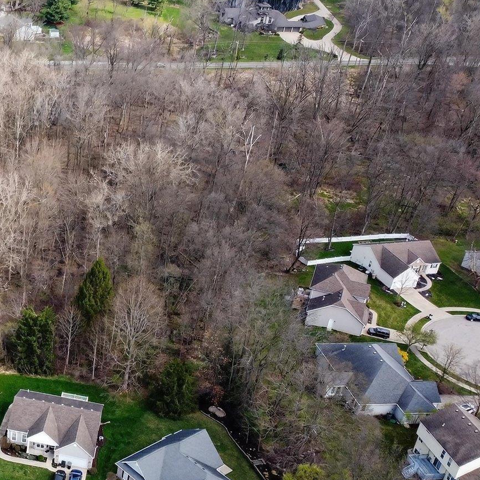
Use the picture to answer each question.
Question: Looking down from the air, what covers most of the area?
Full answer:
For the most part, this view shows trees.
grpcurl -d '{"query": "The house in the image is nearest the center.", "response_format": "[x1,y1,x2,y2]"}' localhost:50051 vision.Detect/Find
[304,263,375,336]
